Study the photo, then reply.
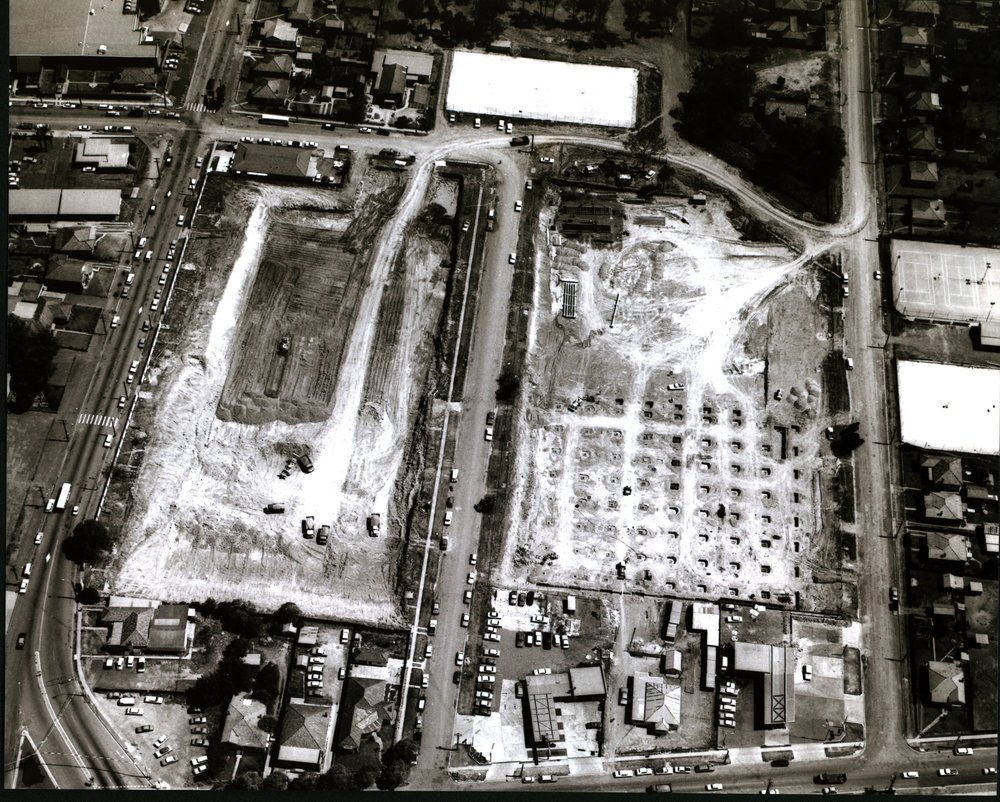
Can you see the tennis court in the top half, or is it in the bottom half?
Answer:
top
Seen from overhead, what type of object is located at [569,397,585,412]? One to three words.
work vehicle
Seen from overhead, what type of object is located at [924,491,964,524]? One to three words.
house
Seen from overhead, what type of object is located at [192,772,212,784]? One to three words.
vehicle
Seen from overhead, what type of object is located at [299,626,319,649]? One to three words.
shed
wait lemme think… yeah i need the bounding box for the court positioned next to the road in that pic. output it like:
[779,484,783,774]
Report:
[891,233,1000,323]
